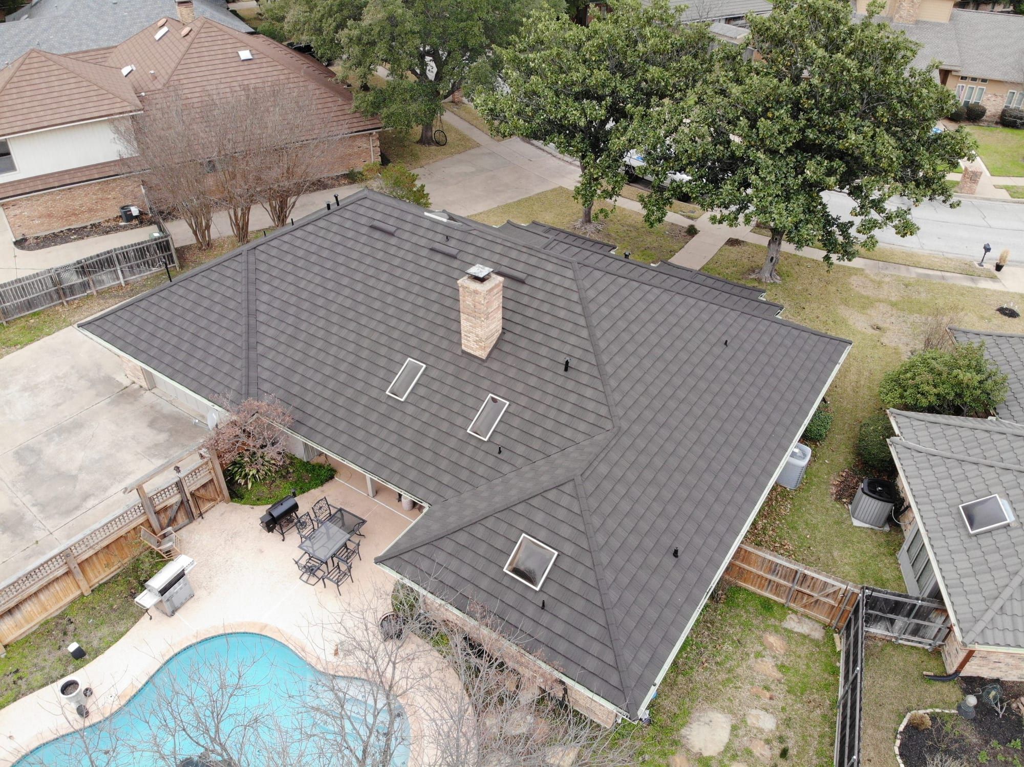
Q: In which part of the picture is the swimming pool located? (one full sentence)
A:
The swimming pool is in the bottom left part of the image.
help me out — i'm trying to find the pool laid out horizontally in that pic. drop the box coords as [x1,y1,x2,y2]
[20,631,409,767]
